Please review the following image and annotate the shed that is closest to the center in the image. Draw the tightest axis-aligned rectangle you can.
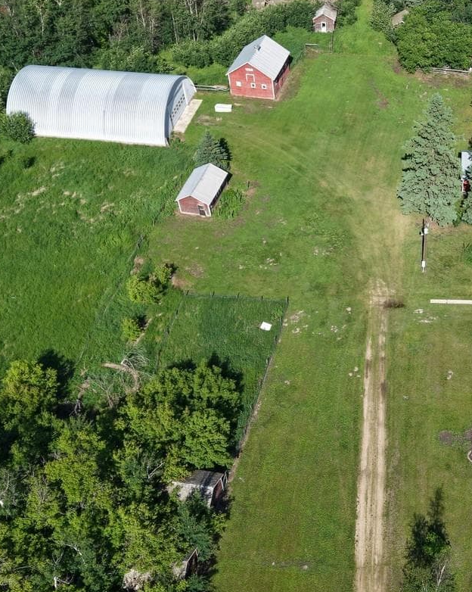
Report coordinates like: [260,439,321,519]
[175,163,228,216]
